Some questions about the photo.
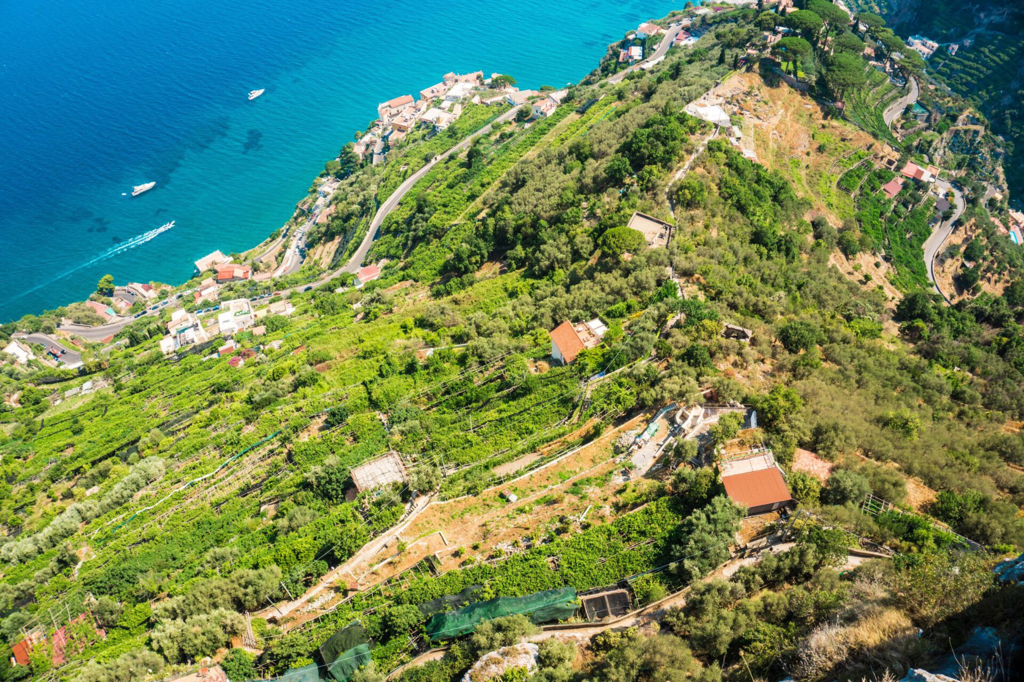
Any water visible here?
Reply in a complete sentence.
Yes, water shows up in the scene.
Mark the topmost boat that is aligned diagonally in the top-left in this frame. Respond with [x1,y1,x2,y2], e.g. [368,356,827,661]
[245,85,264,100]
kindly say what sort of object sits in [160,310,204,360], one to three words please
house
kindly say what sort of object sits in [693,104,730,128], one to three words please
house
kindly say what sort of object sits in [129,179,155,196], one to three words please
boat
